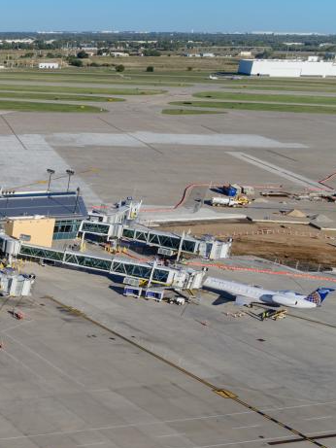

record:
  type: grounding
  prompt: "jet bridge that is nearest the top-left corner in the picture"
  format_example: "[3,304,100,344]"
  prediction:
[82,196,112,223]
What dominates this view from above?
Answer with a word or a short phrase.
paved ground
